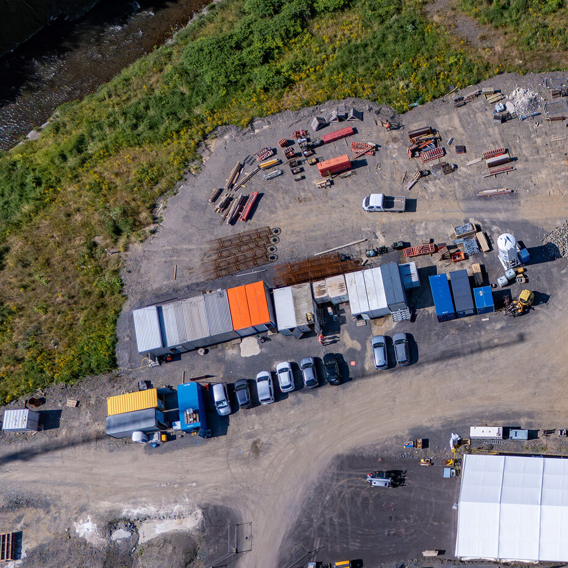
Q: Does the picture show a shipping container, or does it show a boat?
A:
shipping container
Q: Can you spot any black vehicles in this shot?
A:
Yes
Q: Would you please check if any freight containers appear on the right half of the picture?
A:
Yes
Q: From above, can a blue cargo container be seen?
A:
Yes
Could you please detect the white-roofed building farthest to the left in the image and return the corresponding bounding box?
[133,305,172,359]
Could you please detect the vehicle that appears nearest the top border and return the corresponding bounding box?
[363,194,407,212]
